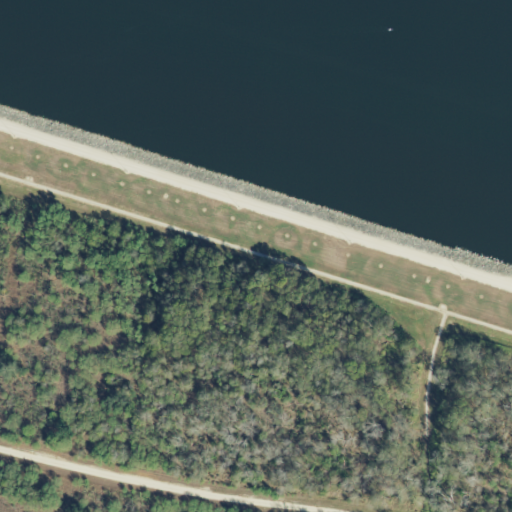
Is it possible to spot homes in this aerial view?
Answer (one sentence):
No, this view has no home in it.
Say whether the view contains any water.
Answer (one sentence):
Yes, there is water in the image.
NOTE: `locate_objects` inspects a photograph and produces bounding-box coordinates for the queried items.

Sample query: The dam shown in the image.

[0,102,512,326]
